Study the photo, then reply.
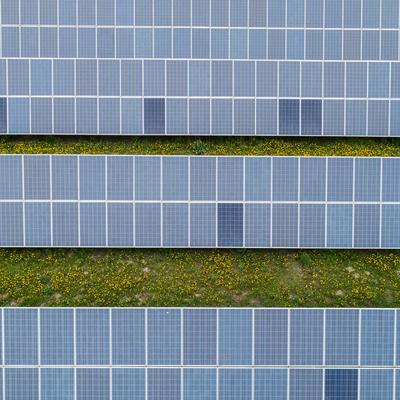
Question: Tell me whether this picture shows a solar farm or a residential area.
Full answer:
The picture captures a solar farm.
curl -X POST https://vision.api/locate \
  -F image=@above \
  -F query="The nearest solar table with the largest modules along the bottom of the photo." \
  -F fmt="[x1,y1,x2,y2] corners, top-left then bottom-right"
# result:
[0,307,400,400]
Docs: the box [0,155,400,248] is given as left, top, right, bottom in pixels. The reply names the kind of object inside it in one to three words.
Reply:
solar array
